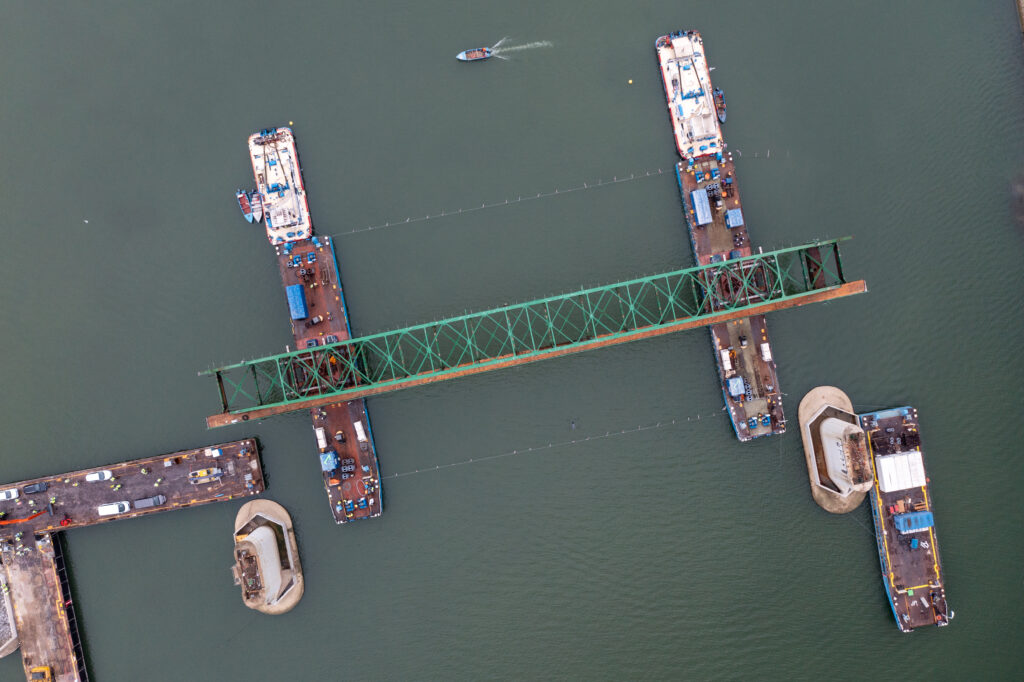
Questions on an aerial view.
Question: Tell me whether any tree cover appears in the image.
No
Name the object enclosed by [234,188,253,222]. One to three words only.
boat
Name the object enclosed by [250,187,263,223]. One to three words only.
boat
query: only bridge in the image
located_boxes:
[197,234,868,430]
